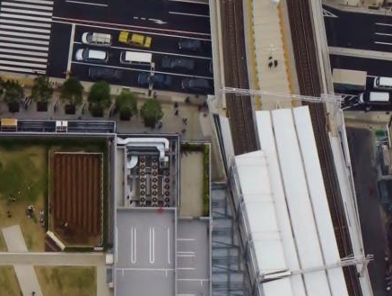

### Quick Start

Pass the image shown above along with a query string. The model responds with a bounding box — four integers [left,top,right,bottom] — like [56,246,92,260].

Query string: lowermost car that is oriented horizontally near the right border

[361,89,391,104]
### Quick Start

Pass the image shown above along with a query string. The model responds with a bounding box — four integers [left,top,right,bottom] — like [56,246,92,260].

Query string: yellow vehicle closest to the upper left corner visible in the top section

[119,32,149,47]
